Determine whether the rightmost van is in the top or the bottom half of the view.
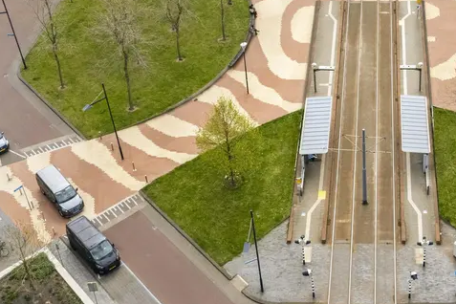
bottom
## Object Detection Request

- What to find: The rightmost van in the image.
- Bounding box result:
[64,213,117,272]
